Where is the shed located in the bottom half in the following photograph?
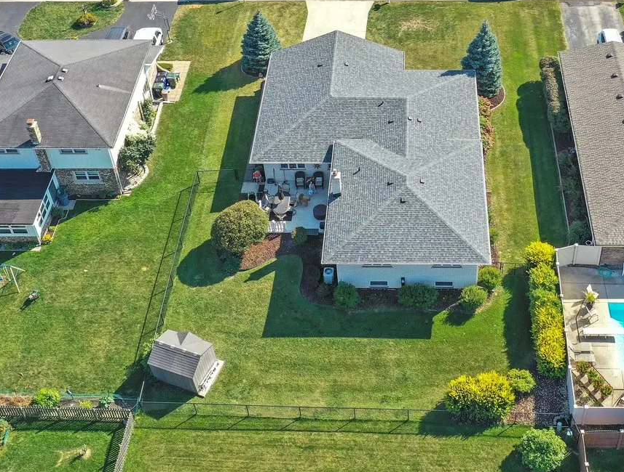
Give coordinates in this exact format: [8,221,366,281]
[151,332,222,394]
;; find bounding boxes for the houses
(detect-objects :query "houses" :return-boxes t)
[246,33,493,295]
[557,40,624,265]
[0,39,155,248]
